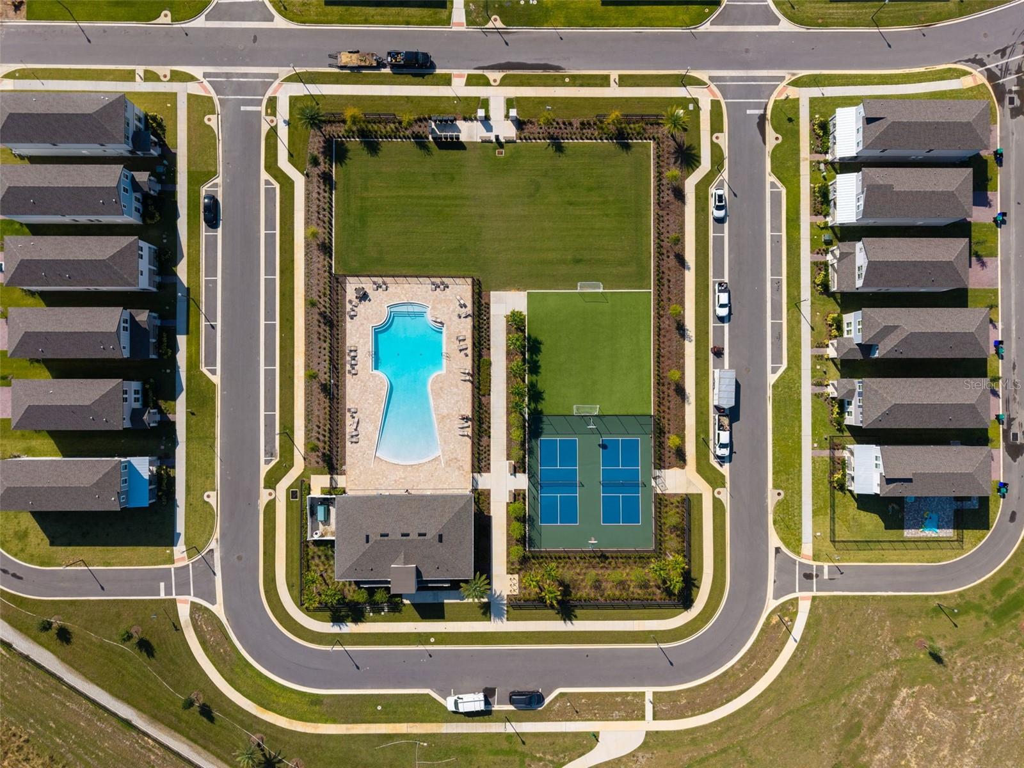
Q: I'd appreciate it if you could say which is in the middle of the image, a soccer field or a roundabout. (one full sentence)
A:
What appears in the middle of the image is a soccer field.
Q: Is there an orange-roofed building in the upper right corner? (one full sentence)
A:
No, no orange-roofed building appears in the upper right corner.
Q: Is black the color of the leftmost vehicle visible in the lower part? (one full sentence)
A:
No, the color of the leftmost vehicle visible in the lower part is white.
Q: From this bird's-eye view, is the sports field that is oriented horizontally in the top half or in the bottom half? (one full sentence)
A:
The top half of the photo is where the sports field that is oriented horizontally is.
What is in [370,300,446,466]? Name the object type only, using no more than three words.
swimming pool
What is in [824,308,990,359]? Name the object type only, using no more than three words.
house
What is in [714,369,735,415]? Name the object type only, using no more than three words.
trailer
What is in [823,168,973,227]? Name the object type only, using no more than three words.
house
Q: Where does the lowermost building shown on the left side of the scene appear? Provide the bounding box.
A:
[304,493,474,593]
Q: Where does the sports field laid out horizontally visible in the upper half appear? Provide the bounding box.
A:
[333,138,653,291]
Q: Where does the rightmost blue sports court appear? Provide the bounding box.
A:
[601,438,641,525]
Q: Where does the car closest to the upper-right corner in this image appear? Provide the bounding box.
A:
[711,188,727,219]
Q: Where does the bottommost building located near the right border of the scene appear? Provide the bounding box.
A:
[843,444,991,497]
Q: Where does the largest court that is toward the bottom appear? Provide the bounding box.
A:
[528,417,655,550]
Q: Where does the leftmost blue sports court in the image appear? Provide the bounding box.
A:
[539,438,579,525]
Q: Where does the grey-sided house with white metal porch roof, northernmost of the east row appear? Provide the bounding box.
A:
[823,100,990,164]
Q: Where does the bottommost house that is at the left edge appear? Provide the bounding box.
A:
[0,455,163,511]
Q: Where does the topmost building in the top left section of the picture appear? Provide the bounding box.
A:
[0,92,165,157]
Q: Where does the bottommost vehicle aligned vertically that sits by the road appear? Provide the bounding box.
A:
[715,415,732,455]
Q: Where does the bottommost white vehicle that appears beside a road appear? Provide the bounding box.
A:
[447,691,486,714]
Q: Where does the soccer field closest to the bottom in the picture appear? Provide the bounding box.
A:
[526,290,653,551]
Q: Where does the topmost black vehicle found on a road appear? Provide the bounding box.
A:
[389,50,432,68]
